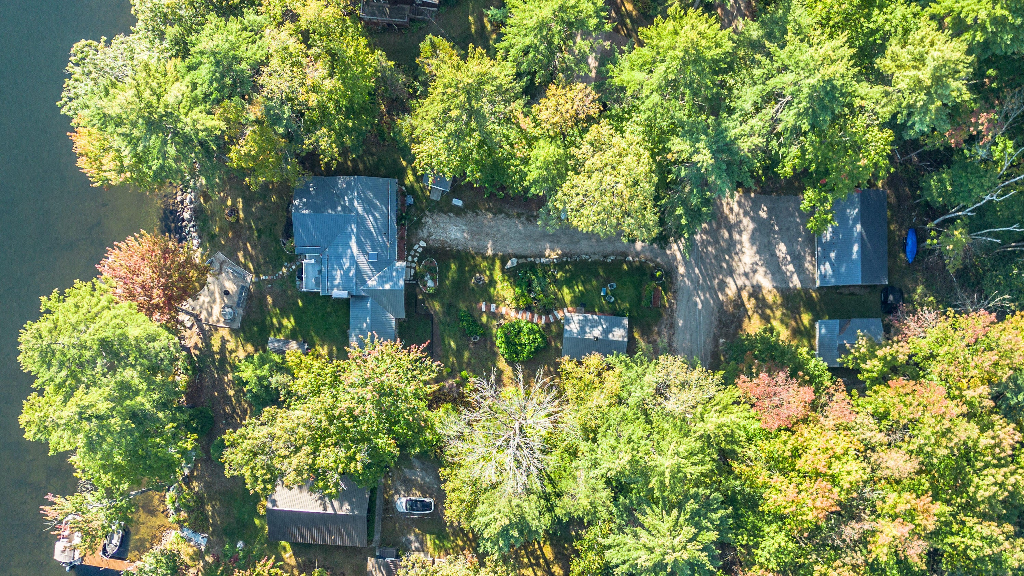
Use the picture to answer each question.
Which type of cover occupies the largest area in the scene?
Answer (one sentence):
What you mostly see from above here is trees.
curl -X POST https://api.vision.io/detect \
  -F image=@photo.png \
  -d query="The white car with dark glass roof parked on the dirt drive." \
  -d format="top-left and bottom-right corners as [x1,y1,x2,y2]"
[396,497,434,516]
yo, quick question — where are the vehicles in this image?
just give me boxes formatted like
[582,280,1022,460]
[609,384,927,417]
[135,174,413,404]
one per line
[881,282,903,319]
[396,497,434,516]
